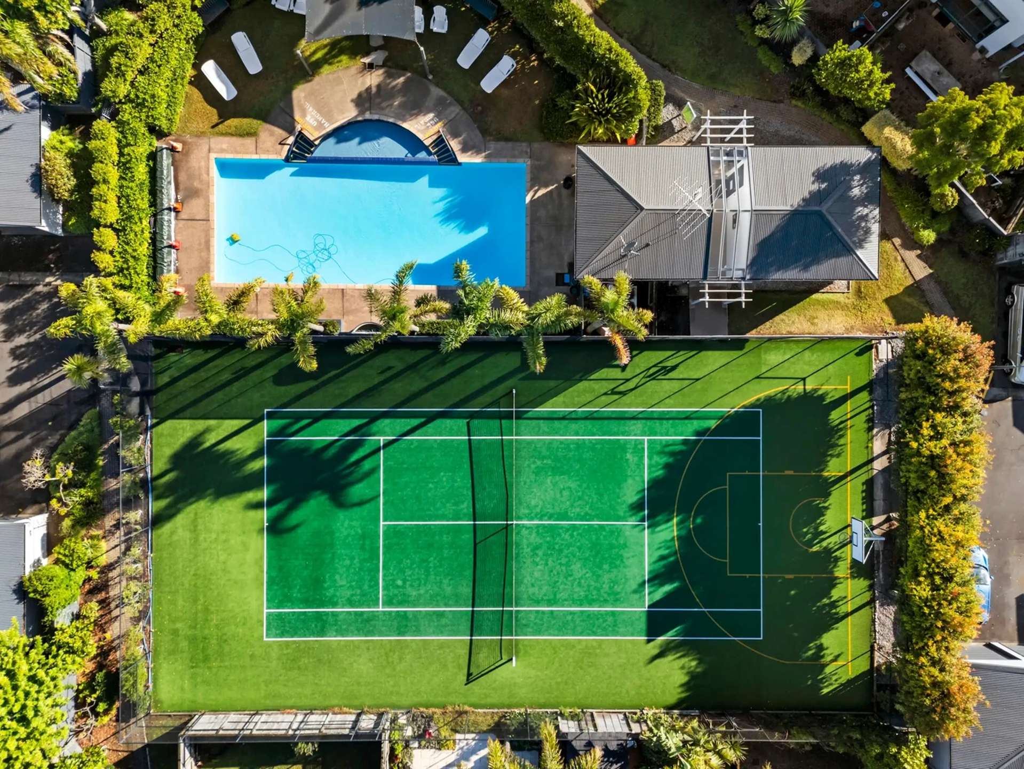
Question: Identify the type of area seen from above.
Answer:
sports ground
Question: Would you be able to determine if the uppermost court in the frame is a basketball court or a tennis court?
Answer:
tennis court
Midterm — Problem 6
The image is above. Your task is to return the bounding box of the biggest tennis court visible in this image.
[152,342,874,712]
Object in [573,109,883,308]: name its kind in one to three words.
building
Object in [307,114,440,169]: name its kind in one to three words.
swimming pool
